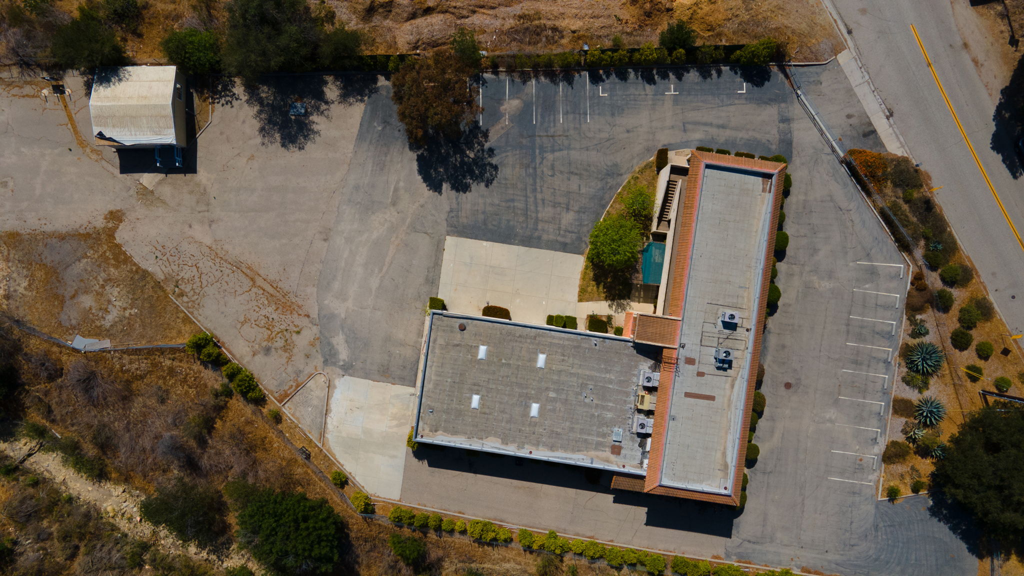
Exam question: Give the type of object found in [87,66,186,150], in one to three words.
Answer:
shed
